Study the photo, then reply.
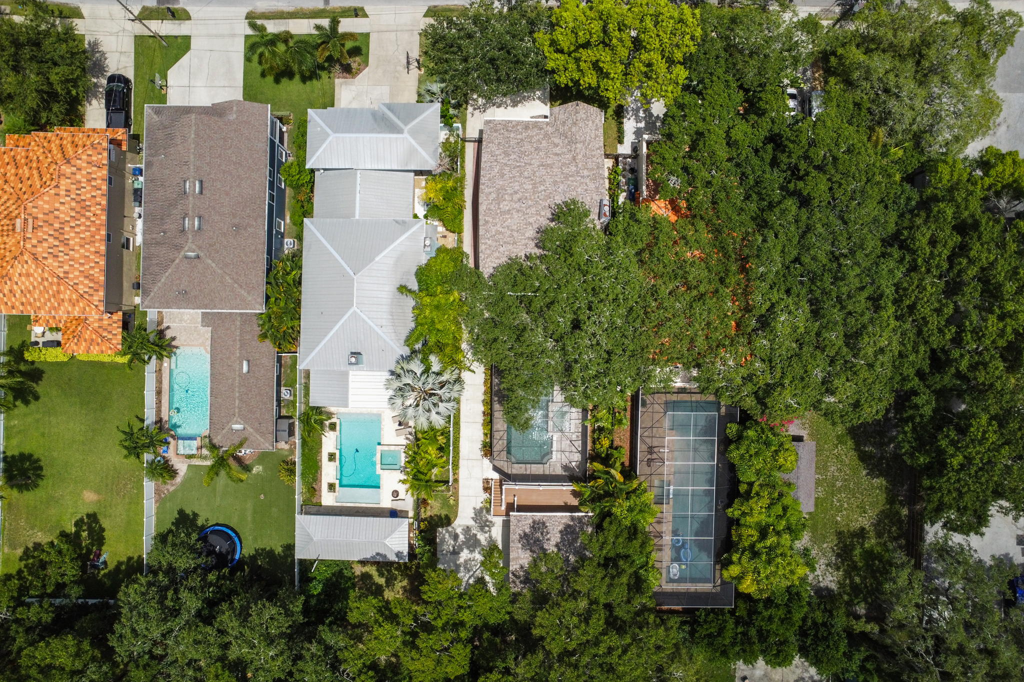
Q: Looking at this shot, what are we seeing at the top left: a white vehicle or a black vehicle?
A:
black vehicle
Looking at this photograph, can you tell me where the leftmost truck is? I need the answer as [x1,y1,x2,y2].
[103,70,132,128]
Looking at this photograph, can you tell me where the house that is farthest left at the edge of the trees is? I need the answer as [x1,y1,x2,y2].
[0,126,139,354]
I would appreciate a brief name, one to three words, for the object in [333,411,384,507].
swimming pool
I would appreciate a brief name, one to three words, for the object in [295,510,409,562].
building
